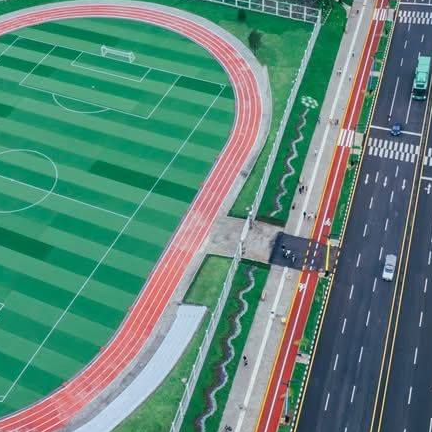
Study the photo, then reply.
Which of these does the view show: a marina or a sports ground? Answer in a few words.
sports ground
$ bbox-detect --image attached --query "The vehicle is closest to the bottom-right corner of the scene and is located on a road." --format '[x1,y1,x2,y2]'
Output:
[383,251,398,279]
